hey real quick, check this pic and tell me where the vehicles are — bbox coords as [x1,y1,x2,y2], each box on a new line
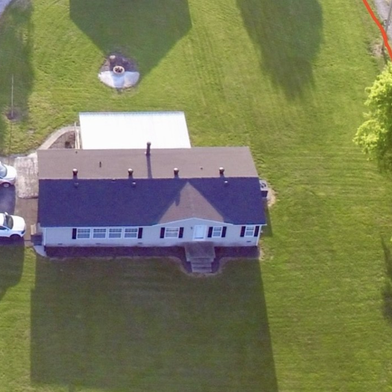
[0,213,25,242]
[0,162,17,190]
